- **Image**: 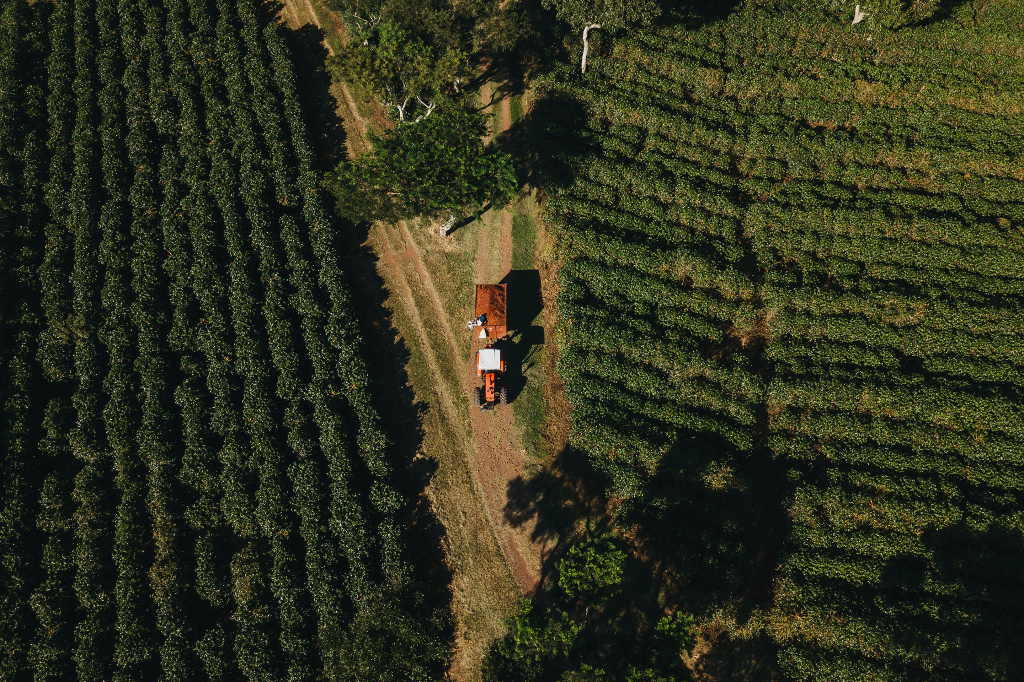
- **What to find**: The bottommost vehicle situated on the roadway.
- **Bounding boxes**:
[474,349,507,411]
